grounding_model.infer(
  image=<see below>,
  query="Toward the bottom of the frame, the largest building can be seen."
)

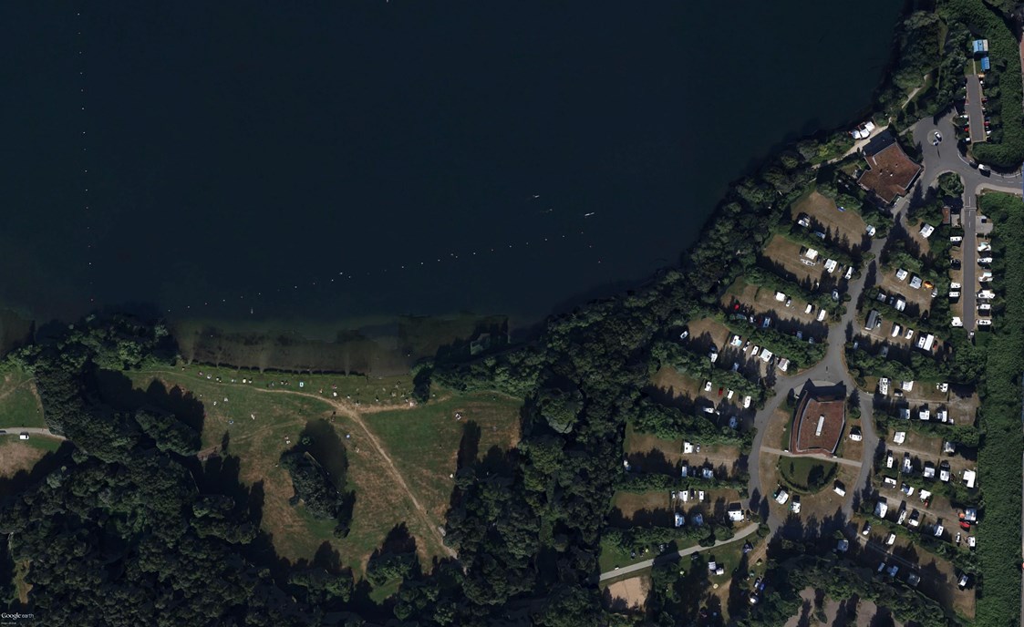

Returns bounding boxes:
[790,390,846,457]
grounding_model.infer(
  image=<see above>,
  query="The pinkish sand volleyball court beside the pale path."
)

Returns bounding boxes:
[608,576,651,612]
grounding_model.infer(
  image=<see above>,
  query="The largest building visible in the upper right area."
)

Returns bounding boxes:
[860,128,922,202]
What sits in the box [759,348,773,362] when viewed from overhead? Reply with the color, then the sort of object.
white camper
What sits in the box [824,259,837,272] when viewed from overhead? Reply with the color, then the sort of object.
white vehicle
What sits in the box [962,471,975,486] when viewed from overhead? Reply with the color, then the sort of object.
white vehicle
